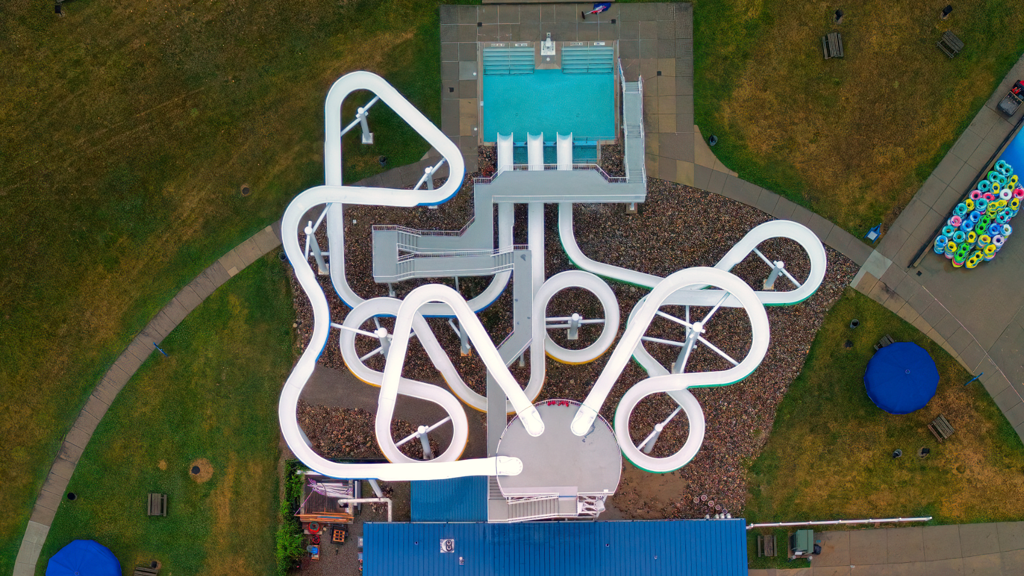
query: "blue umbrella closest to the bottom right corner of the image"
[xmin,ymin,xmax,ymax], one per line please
[865,344,938,416]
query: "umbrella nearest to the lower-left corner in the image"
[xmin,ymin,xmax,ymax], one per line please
[47,541,121,576]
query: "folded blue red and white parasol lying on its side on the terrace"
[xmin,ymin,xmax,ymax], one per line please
[581,1,610,18]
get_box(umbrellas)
[47,541,121,576]
[865,344,938,416]
[581,1,610,18]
